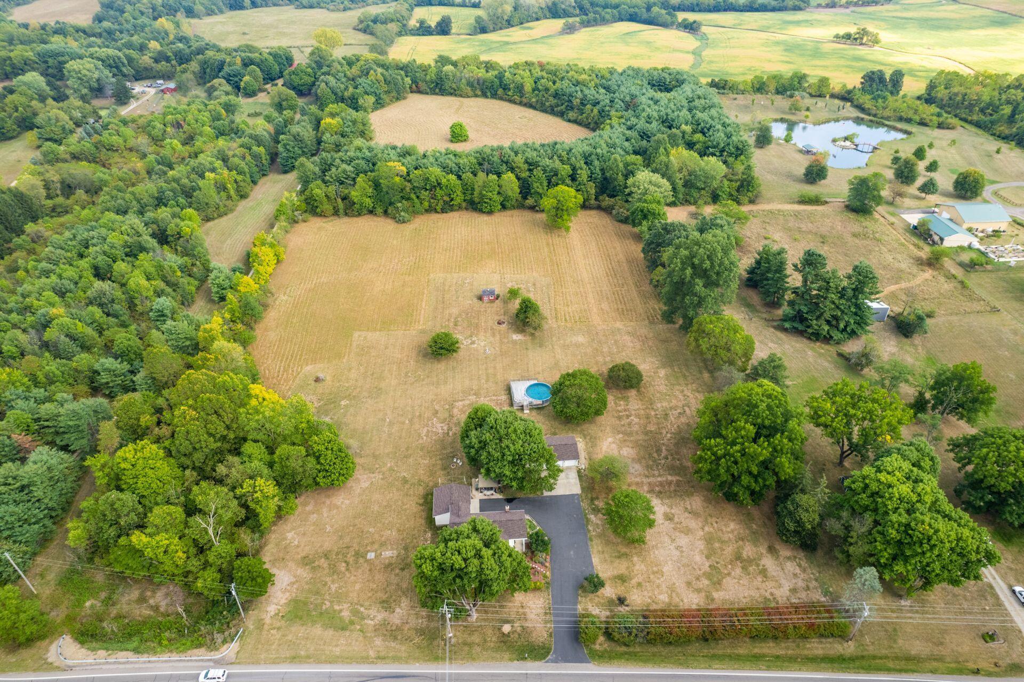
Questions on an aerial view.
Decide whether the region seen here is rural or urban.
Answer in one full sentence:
The land in this view is best described as rural.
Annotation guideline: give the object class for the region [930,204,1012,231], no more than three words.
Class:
barn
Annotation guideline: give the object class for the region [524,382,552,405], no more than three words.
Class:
swimming pool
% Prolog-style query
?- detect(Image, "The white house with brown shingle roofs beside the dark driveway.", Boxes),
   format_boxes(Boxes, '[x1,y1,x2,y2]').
[432,481,527,548]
